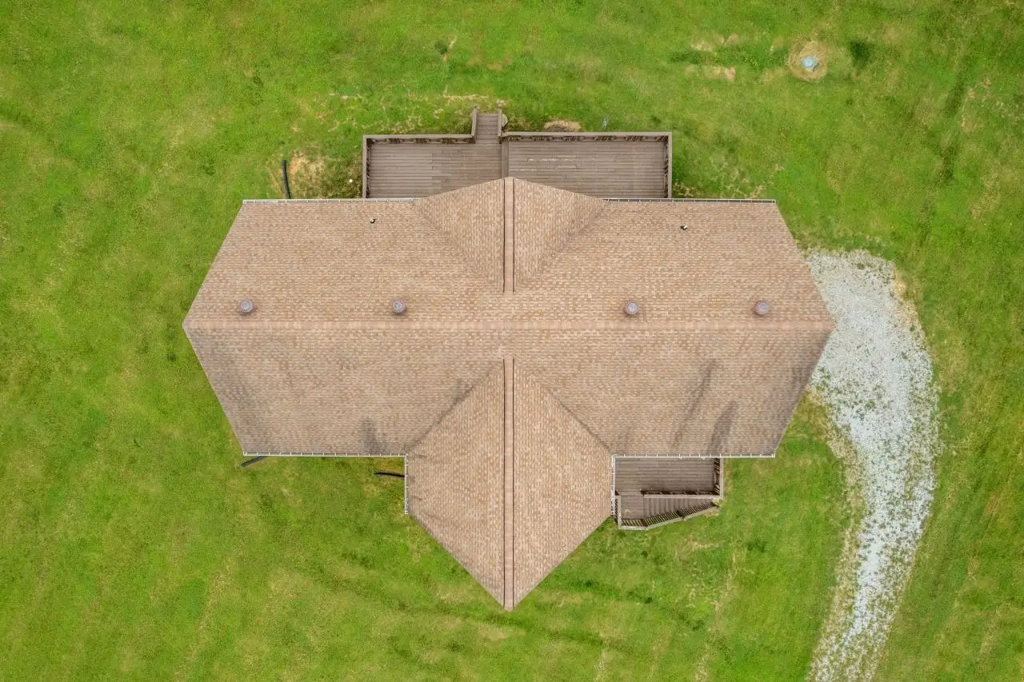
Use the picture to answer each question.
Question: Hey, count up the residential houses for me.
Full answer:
There is 1 residential house in the image.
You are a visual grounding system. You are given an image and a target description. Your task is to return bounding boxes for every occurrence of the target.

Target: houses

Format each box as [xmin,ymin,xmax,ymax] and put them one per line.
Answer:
[182,176,835,612]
